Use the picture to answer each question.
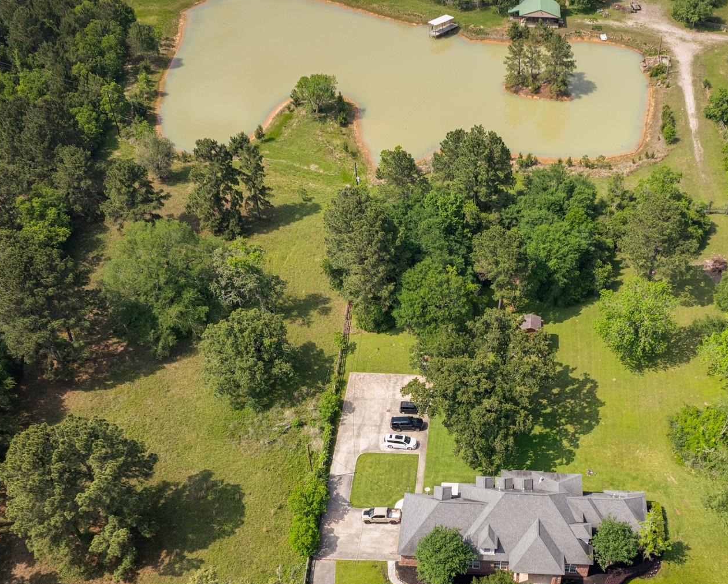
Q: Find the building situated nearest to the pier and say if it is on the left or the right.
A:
right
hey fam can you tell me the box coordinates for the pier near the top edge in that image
[428,14,459,37]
